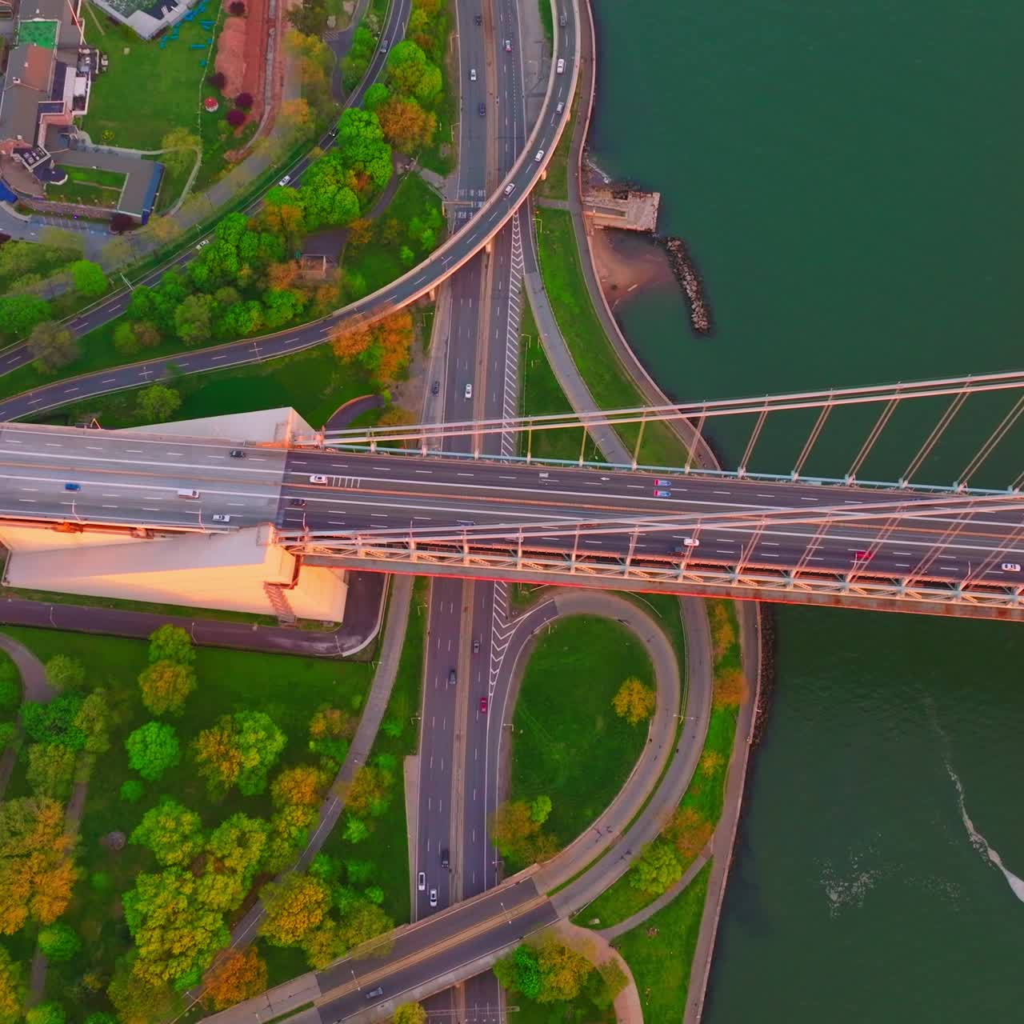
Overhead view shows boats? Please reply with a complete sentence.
No, the frame has no boat in it.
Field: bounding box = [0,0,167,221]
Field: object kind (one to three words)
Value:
building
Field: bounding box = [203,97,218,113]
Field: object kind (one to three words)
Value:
gazebo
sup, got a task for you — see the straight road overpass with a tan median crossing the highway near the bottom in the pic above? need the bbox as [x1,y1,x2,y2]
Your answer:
[314,862,562,1024]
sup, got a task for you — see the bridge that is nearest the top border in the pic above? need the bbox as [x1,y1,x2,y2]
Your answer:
[321,0,581,336]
